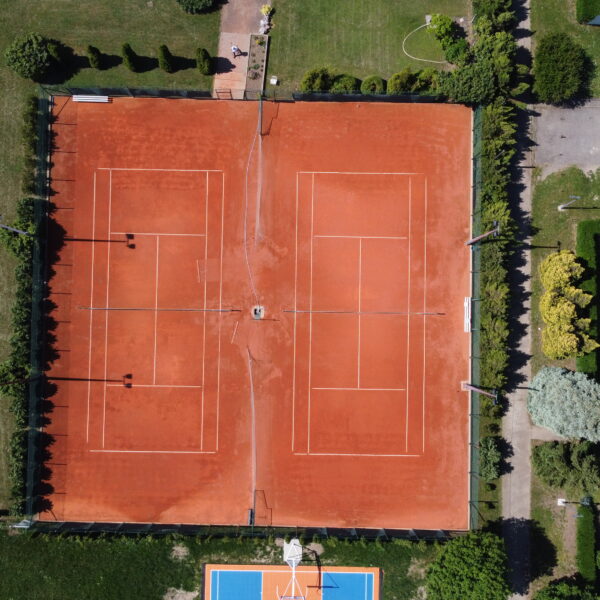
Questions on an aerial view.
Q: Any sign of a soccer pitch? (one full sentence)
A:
No, no soccer pitch is visible in the scene.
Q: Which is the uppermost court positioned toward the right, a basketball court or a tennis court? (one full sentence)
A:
I'd say the uppermost court positioned toward the right is a tennis court.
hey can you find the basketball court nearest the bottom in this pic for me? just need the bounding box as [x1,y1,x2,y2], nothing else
[202,565,383,600]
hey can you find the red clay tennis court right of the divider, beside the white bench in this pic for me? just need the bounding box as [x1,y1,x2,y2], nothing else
[254,100,472,530]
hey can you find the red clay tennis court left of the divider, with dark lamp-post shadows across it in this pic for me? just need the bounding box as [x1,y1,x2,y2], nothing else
[38,97,261,526]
